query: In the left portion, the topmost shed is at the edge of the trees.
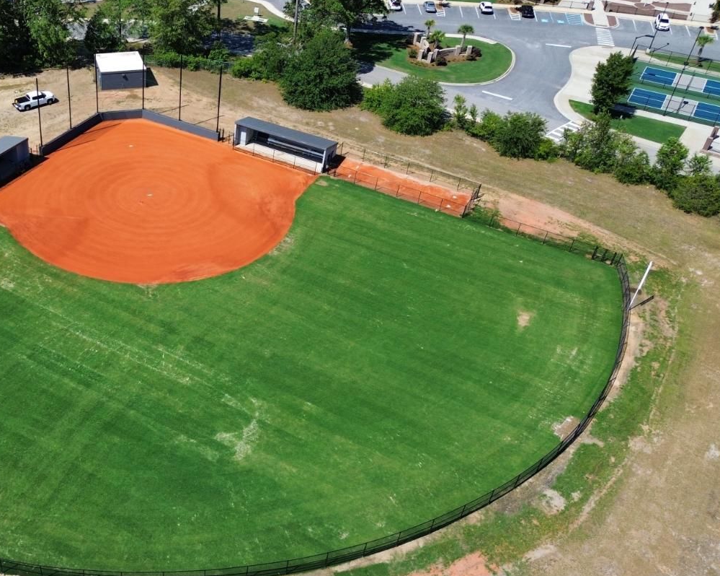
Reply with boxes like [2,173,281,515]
[94,51,148,90]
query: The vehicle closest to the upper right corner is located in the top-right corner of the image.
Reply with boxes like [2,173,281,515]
[655,13,672,30]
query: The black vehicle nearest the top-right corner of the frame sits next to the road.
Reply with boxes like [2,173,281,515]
[520,2,536,18]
